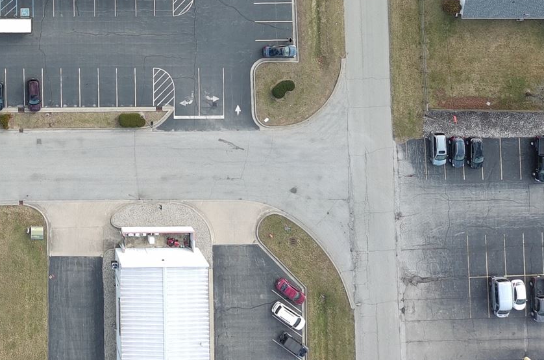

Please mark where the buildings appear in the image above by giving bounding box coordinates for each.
[115,250,211,360]
[454,0,544,19]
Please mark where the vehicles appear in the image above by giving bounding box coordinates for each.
[0,18,31,38]
[511,278,528,310]
[273,277,306,304]
[26,78,42,112]
[276,329,308,358]
[530,274,544,320]
[270,301,306,329]
[531,136,544,181]
[465,136,485,169]
[0,81,6,111]
[429,133,449,165]
[262,45,295,61]
[490,275,514,317]
[447,136,466,167]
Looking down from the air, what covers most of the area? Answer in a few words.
paved ground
